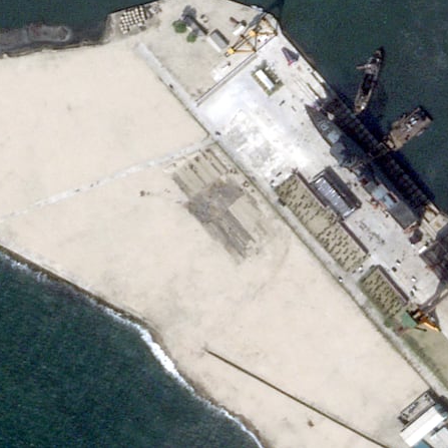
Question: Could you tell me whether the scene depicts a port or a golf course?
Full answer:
This image shows a port.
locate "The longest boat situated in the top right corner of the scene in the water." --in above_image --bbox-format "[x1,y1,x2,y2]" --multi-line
[357,48,384,112]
